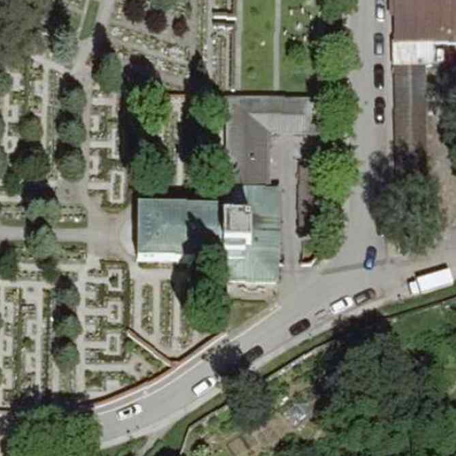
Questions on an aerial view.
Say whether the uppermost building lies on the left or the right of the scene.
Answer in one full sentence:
The uppermost building appears in the right half of the scene.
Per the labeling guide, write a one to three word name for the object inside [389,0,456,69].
building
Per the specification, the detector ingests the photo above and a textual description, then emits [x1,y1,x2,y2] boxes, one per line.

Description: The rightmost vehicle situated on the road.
[408,264,454,292]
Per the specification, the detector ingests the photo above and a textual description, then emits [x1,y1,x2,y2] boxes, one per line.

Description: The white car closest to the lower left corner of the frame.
[118,404,141,419]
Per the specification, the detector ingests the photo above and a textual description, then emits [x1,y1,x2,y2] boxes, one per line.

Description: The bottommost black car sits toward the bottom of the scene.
[241,345,263,361]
